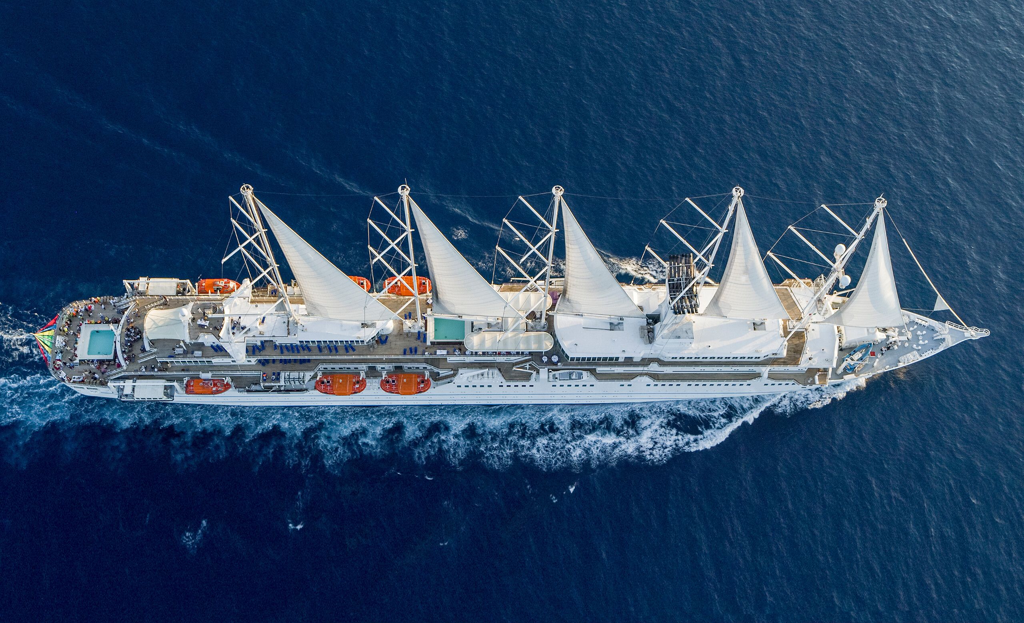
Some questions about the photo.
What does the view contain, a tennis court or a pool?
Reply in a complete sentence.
The image shows a pool.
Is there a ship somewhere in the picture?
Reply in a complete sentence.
Yes, this view includes a ship.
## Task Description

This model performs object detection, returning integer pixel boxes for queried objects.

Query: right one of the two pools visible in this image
[425,308,485,349]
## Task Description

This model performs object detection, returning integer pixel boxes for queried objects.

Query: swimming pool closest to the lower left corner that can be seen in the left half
[80,324,118,370]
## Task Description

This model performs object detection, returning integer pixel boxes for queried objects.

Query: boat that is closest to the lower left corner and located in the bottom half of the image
[115,377,179,404]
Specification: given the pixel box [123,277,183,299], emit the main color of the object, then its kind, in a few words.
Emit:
white boat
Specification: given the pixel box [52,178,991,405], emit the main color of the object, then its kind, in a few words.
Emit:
white ship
